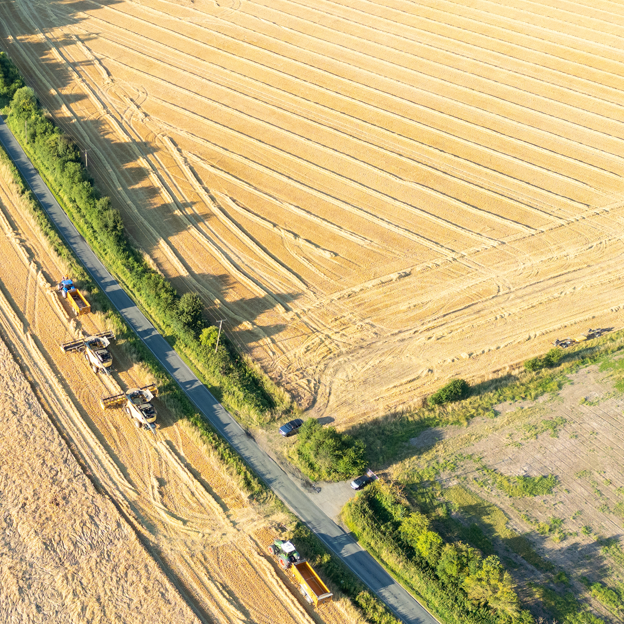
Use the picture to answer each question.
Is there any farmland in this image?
Yes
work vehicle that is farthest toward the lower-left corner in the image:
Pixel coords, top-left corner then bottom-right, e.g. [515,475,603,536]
[99,381,158,434]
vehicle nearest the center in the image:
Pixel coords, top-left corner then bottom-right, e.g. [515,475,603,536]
[279,418,304,438]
